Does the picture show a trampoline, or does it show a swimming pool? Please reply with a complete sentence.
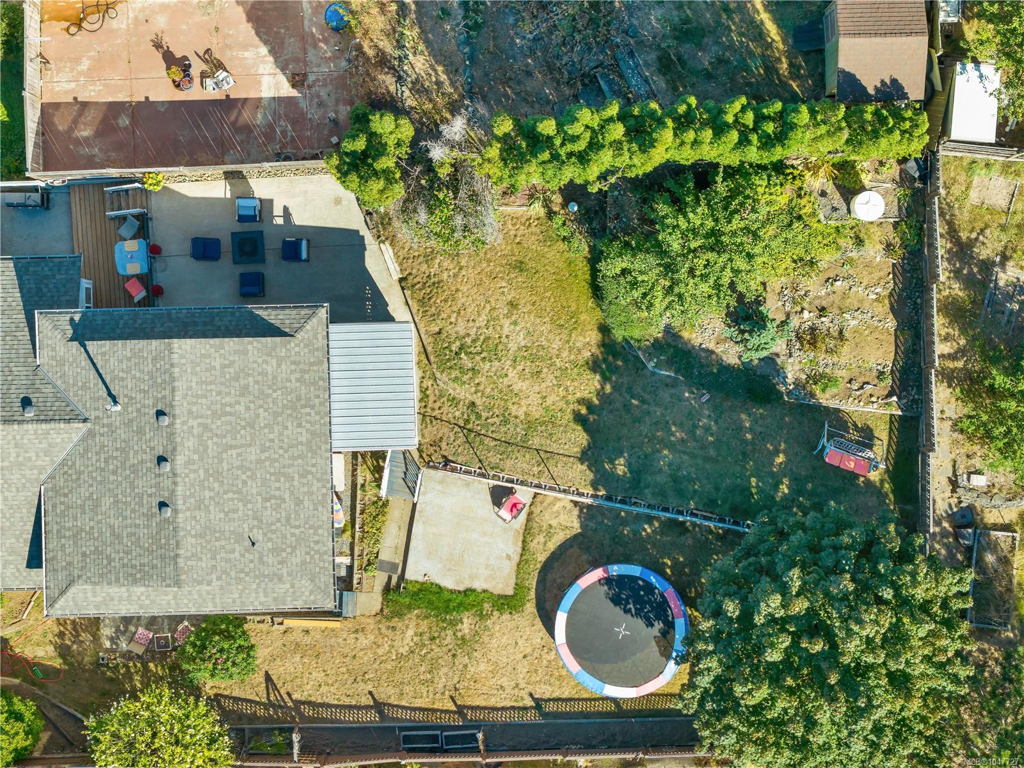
Of the two, only a trampoline appears.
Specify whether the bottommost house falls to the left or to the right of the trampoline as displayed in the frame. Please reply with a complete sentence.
The trampoline has the bottommost house on its left side.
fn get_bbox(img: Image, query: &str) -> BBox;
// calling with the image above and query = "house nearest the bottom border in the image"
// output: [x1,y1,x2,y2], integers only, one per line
[0,252,340,620]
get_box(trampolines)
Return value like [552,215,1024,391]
[554,561,689,698]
